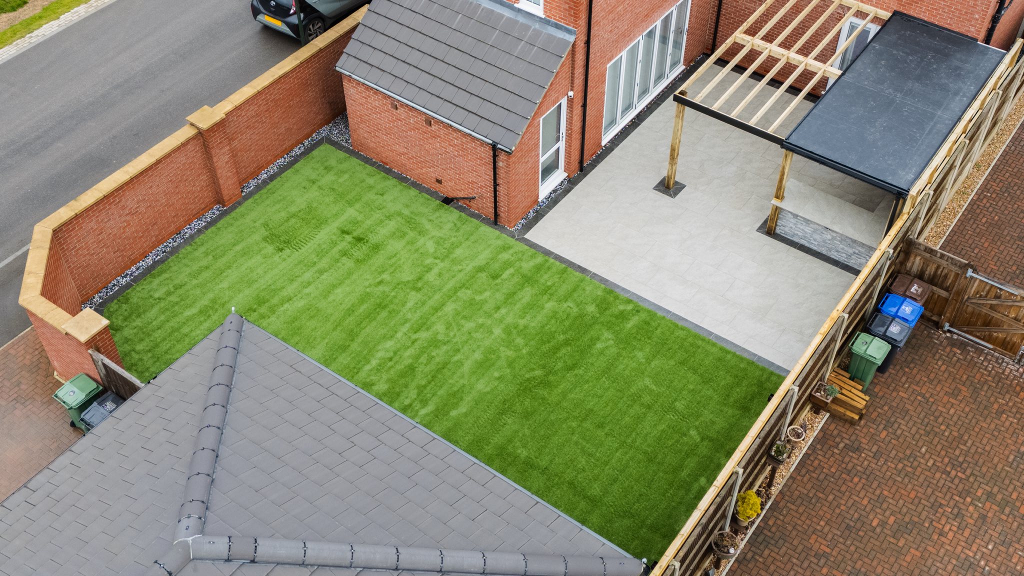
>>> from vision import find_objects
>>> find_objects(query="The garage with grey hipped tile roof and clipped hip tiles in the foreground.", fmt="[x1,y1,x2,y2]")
[0,307,645,576]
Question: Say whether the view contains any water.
No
